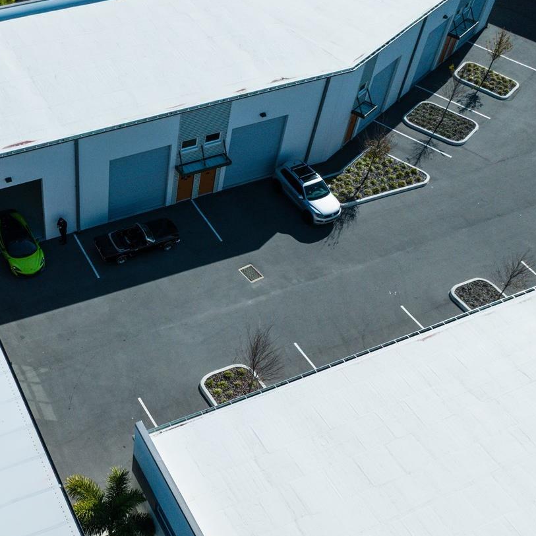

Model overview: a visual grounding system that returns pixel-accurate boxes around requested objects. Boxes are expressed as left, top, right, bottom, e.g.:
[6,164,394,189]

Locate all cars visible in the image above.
[0,208,41,277]
[94,212,187,259]
[273,156,342,221]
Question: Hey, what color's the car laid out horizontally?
black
